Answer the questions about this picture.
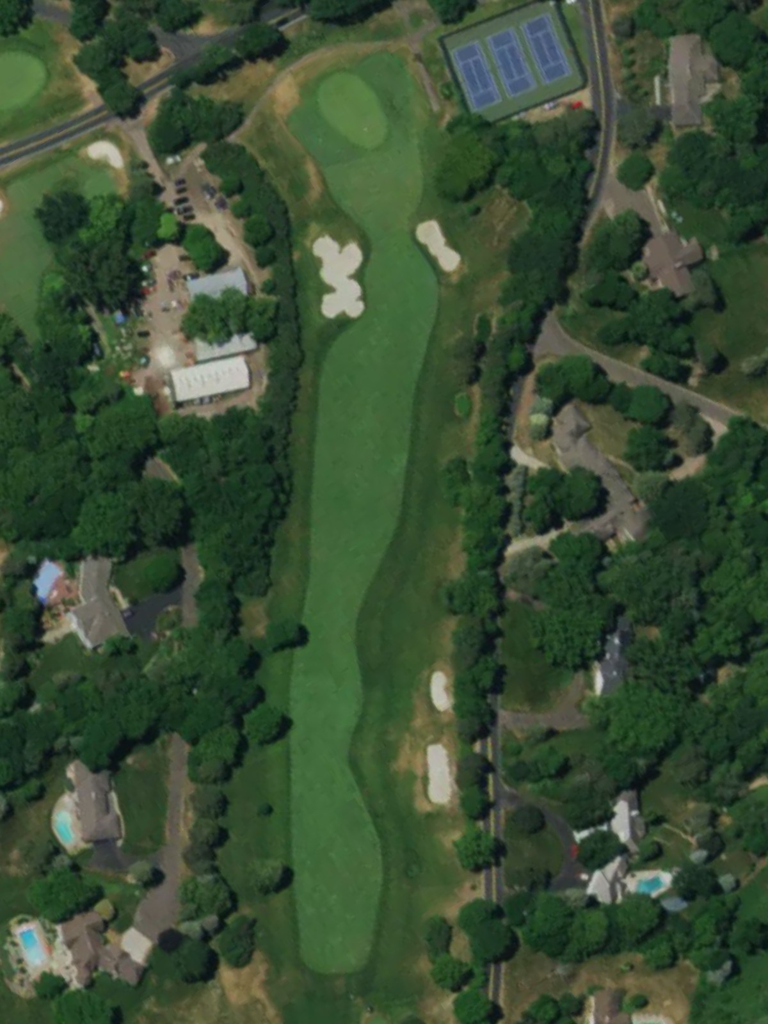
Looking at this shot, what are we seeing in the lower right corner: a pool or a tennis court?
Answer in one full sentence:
You can see a pool in the lower right corner.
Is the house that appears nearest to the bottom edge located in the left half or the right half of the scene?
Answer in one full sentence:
The house that appears nearest to the bottom edge is on the right side of the image.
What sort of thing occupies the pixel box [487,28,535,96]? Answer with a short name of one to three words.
tennis court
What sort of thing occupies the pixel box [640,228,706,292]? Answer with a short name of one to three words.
house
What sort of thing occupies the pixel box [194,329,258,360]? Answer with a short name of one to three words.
shed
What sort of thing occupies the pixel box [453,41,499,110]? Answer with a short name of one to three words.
tennis court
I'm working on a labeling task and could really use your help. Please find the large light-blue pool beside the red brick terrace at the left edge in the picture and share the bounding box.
[34,560,63,605]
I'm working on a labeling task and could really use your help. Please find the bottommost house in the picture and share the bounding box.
[592,988,634,1024]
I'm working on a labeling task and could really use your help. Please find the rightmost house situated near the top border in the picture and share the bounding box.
[667,35,723,127]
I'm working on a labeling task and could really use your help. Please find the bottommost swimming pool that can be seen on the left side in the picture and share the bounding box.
[13,920,54,980]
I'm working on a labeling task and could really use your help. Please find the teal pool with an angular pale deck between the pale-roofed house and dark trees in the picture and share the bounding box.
[625,870,672,897]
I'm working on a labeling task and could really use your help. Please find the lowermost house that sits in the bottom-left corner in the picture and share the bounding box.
[56,904,151,992]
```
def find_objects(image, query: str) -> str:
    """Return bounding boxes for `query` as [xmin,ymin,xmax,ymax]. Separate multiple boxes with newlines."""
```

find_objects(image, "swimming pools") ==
[625,870,672,897]
[34,560,63,605]
[631,1016,674,1024]
[52,792,93,855]
[13,920,54,980]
